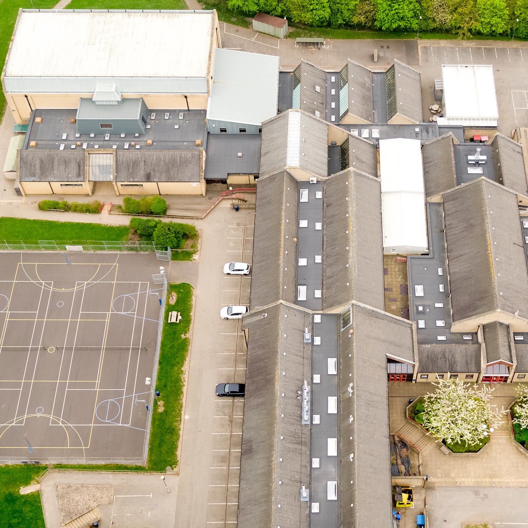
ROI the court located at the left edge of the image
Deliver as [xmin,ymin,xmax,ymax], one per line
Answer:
[0,252,171,465]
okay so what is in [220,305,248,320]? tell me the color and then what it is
white car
